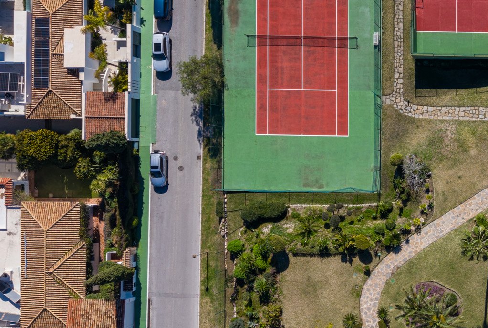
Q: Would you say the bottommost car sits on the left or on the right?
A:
left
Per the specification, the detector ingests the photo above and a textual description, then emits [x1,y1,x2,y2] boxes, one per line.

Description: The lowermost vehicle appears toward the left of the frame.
[149,152,170,186]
